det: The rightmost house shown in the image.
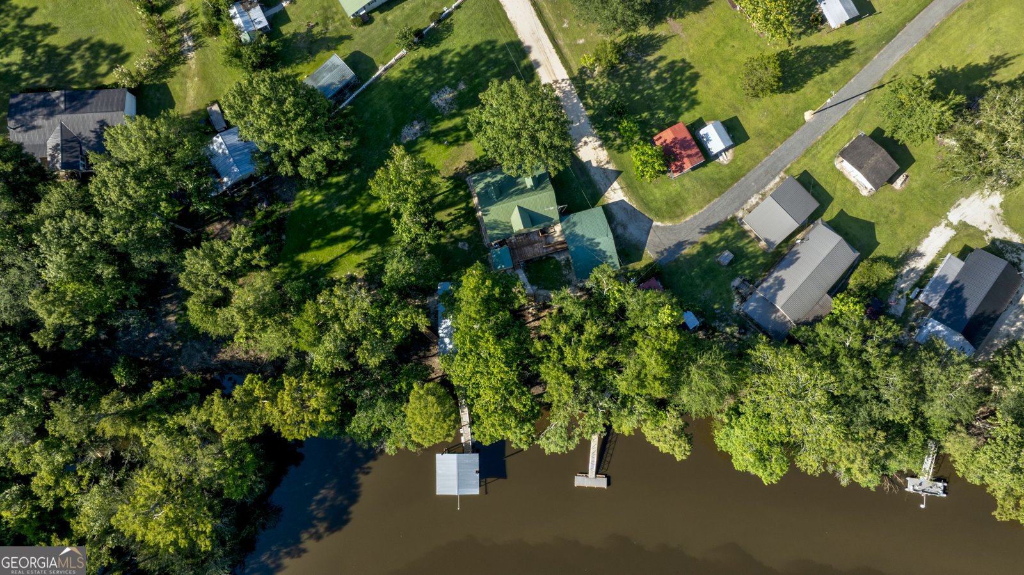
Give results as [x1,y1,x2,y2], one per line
[910,248,1024,361]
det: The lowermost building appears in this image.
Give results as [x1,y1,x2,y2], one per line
[436,449,479,511]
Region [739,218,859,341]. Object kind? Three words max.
house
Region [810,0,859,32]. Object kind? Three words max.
shed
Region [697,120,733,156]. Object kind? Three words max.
shed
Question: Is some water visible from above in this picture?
Yes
